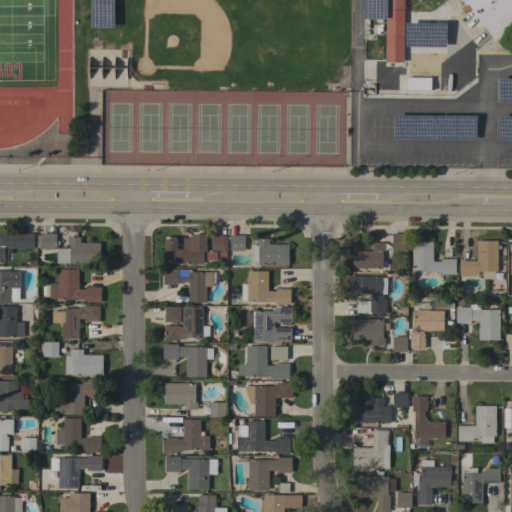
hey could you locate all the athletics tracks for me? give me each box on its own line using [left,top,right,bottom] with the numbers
[0,0,74,150]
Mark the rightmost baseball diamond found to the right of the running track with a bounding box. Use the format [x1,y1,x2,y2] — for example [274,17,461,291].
[138,0,231,80]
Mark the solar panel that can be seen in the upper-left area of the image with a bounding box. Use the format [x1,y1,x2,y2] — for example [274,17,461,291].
[90,0,114,27]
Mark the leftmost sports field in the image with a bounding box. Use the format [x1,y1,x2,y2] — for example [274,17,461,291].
[0,0,57,86]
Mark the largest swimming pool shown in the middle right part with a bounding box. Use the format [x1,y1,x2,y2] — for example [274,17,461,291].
[388,276,406,304]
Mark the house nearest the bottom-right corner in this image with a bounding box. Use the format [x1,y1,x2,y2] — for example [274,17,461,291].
[464,468,502,504]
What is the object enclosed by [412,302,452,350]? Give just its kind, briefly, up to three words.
house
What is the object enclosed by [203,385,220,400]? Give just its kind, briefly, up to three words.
swimming pool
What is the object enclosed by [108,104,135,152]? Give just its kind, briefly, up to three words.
tennis court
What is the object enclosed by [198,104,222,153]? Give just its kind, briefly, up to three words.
tennis court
